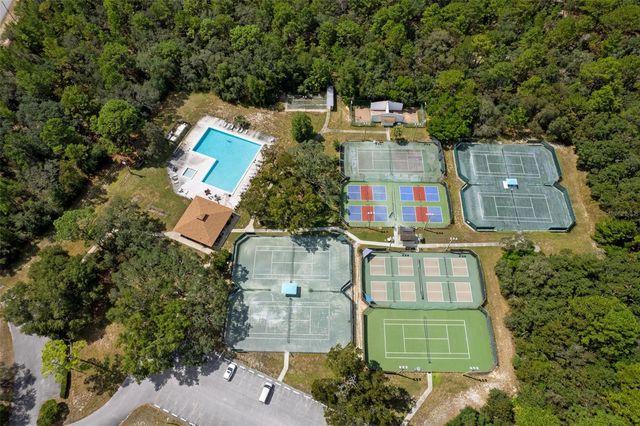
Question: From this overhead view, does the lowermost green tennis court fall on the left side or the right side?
right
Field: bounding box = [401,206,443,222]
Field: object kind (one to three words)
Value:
sports court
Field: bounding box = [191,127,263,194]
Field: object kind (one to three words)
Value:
swimming pool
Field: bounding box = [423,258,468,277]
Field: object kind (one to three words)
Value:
sports court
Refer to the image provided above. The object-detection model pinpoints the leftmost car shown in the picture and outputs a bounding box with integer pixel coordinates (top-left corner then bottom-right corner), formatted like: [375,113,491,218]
[222,363,235,382]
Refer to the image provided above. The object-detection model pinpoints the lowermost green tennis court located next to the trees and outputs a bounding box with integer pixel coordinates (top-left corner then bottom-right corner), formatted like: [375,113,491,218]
[364,305,494,372]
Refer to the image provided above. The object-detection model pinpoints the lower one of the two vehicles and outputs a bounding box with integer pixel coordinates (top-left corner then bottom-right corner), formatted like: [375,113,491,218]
[258,382,272,405]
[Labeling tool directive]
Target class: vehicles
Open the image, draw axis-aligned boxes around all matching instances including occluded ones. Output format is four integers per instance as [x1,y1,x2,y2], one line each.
[258,382,272,405]
[222,363,235,382]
